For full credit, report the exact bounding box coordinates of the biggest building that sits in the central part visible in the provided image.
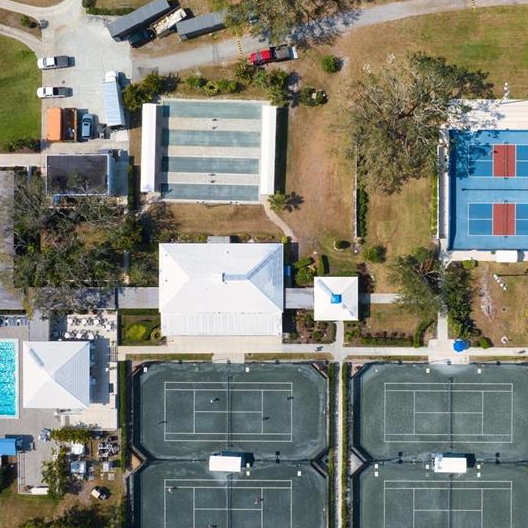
[158,235,284,336]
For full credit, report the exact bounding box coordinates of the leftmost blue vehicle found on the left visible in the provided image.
[81,114,94,140]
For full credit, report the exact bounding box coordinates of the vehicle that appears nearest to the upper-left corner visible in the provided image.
[38,55,72,69]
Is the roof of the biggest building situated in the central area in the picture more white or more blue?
white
